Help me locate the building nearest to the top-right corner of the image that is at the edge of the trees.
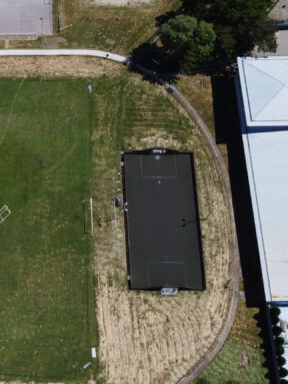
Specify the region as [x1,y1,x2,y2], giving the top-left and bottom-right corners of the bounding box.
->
[232,58,288,140]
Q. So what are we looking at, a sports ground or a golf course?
sports ground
